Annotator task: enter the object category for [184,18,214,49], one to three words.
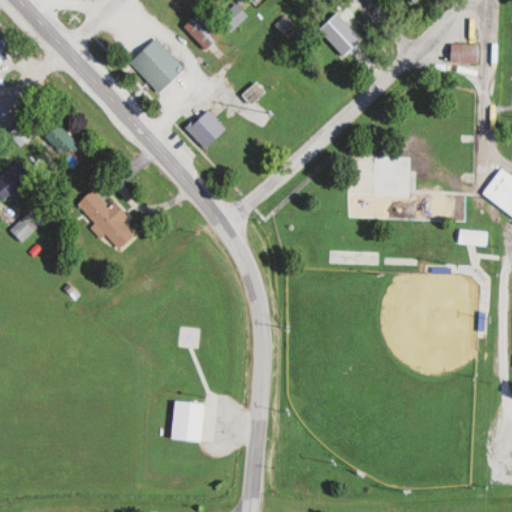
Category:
house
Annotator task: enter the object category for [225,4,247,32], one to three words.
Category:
house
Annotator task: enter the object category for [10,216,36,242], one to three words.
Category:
shed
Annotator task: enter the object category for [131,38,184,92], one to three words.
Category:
building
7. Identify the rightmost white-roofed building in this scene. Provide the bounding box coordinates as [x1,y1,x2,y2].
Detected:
[483,168,512,216]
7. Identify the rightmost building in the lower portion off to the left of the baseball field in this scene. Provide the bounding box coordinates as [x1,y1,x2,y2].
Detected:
[170,401,204,442]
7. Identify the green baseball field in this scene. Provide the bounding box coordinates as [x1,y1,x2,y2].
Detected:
[287,270,480,487]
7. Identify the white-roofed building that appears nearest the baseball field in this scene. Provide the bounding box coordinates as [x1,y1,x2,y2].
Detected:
[458,228,490,248]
